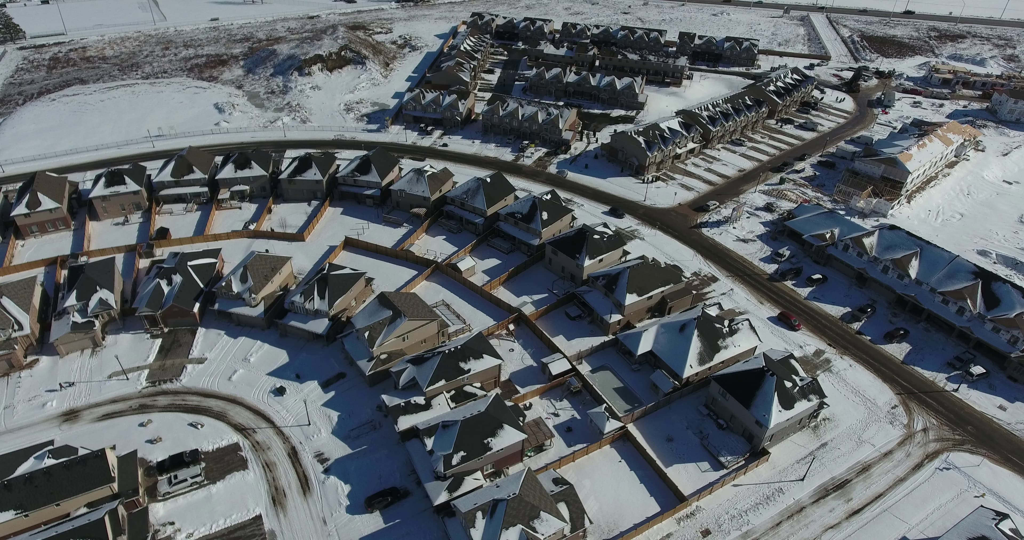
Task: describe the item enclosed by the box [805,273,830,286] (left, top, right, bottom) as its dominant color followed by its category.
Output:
black vehicle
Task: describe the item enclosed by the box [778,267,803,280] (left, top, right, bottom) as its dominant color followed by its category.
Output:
black vehicle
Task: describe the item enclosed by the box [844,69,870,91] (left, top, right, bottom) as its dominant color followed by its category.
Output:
black truck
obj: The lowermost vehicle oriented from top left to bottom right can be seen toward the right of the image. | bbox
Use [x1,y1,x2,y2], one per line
[777,312,803,332]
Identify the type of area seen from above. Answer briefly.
residential area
